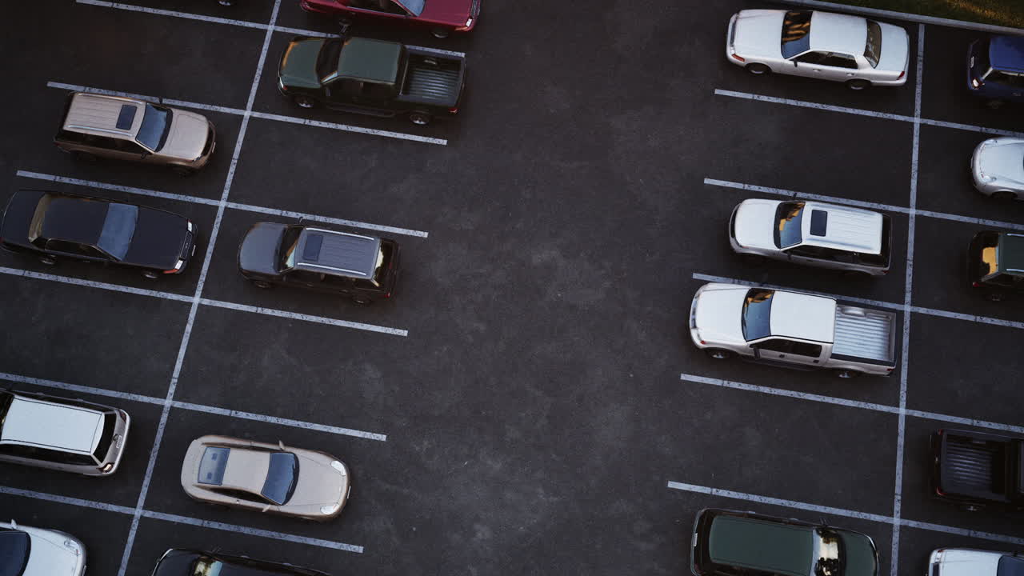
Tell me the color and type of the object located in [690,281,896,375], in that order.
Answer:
white truck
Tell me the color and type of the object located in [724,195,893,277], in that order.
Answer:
white car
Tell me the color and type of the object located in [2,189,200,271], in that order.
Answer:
black car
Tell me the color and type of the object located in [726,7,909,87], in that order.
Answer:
white car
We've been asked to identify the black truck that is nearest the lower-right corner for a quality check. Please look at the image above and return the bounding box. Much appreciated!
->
[927,431,1024,520]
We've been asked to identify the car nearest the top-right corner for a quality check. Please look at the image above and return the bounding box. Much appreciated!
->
[960,33,1024,108]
